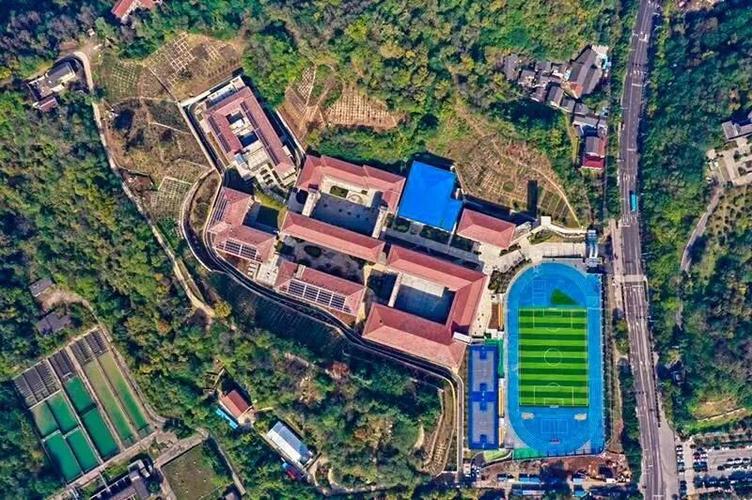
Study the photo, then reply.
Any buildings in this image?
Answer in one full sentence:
Yes, looking at the shot, I can spot a building.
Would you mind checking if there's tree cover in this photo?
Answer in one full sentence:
Yes, there is tree cover in the image.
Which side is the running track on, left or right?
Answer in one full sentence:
The running track sits on the right side.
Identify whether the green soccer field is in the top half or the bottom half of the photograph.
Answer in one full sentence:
You can find the green soccer field in the bottom half.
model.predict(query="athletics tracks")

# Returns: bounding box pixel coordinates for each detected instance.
[503,261,602,458]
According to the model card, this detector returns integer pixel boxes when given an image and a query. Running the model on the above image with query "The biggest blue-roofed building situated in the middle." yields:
[398,161,464,233]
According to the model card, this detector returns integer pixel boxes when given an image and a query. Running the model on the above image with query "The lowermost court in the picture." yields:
[472,402,494,442]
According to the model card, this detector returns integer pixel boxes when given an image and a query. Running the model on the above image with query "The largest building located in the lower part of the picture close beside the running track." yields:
[363,245,488,370]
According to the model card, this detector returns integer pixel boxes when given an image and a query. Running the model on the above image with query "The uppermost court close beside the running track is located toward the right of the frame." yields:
[472,350,494,391]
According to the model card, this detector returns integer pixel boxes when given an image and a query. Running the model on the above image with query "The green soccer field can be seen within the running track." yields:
[519,308,588,407]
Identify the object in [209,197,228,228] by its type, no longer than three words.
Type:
solar panel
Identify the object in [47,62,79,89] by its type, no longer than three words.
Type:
house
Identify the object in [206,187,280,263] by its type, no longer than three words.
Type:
building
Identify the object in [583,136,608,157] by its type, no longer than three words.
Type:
house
